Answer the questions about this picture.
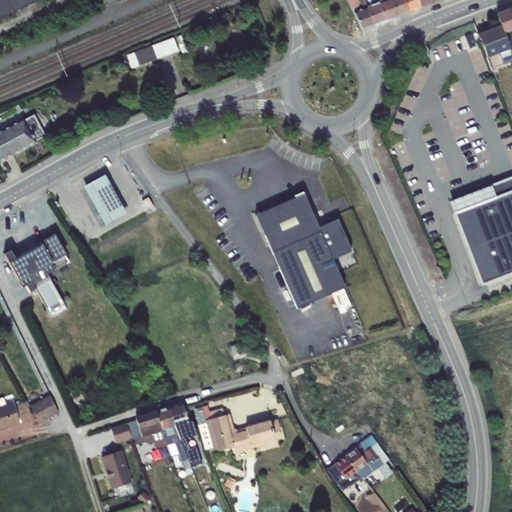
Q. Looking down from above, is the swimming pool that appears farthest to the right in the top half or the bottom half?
bottom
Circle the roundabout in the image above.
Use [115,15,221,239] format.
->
[280,40,376,133]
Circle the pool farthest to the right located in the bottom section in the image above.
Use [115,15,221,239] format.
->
[230,457,258,512]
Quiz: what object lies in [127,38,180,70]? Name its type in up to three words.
shed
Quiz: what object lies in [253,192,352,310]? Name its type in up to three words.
building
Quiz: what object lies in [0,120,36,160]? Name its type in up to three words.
house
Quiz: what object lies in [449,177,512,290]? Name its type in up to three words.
building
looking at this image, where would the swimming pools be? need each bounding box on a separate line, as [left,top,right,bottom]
[230,457,258,512]
[210,503,220,512]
